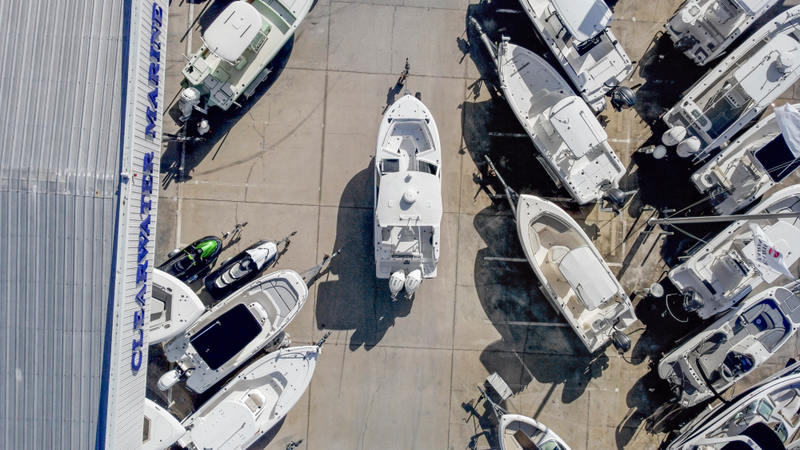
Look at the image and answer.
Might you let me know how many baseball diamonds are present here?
0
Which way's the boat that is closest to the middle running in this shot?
from top to bottom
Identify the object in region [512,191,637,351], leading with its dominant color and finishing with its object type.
white boat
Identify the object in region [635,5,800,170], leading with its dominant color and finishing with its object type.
white boat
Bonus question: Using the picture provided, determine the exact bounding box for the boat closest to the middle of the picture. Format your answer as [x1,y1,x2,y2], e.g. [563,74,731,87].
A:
[374,91,441,305]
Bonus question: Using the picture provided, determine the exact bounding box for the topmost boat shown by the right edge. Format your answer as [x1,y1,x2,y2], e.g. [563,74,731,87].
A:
[662,0,780,68]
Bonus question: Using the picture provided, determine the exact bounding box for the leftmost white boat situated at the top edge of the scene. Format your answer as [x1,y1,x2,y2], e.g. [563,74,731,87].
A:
[177,0,312,112]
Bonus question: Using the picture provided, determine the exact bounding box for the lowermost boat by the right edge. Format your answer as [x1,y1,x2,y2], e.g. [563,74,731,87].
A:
[648,359,800,450]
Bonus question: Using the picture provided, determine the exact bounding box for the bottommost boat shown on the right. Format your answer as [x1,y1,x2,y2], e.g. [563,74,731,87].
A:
[499,410,570,450]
